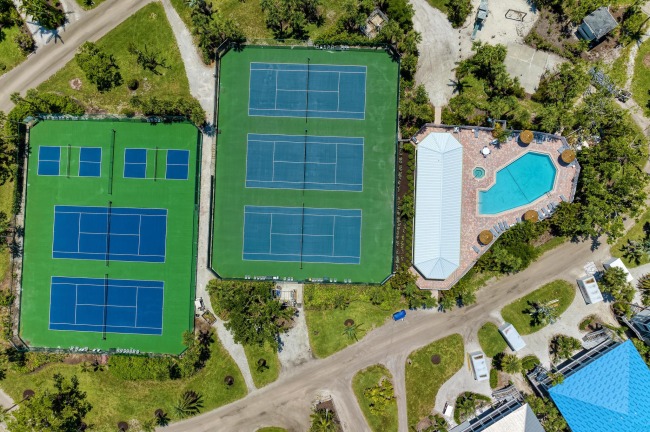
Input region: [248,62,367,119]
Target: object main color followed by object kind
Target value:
blue tennis court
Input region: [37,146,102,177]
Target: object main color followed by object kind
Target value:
blue sports court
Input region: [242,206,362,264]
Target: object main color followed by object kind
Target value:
blue tennis court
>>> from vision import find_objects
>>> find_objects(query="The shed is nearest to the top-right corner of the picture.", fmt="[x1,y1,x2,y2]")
[573,4,620,46]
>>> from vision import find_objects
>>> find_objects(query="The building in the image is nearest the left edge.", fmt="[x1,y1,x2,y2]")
[412,132,463,280]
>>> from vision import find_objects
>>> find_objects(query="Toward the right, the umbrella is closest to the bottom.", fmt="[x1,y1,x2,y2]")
[477,229,493,245]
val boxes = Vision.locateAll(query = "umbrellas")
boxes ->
[559,148,575,164]
[517,129,534,145]
[477,229,493,245]
[522,207,538,224]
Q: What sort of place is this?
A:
sports ground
